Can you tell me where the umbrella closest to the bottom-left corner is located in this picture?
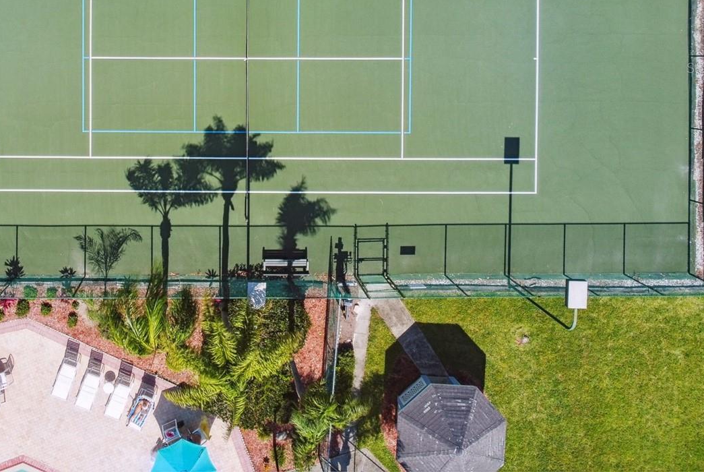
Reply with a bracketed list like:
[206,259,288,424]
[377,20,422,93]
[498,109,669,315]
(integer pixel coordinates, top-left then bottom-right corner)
[152,438,217,472]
